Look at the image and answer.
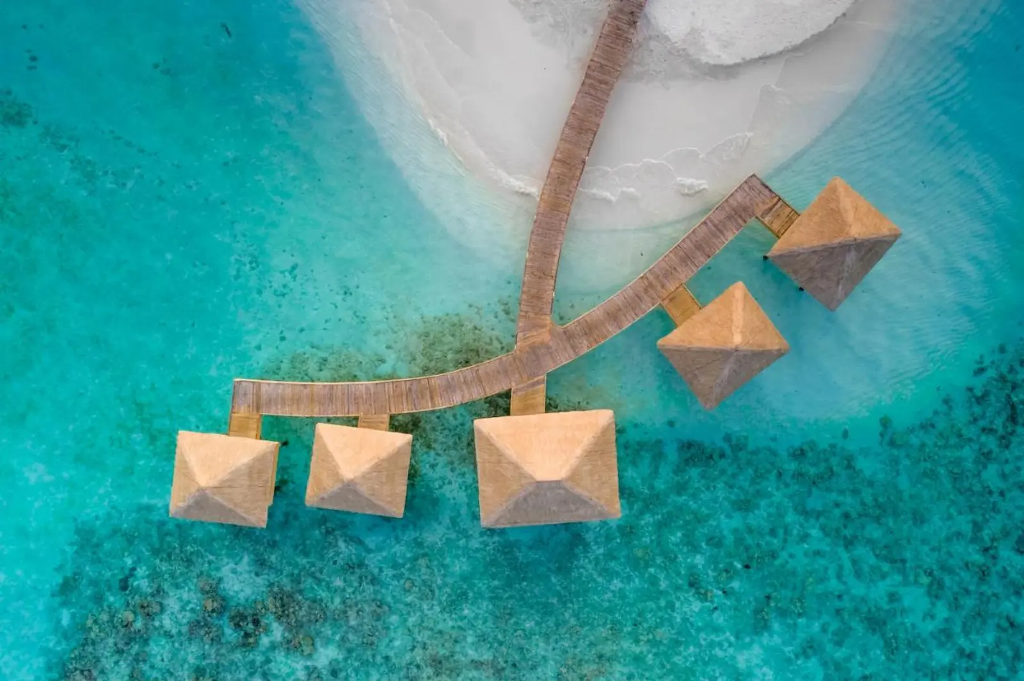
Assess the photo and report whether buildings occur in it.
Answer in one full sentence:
Yes, I can see a building in this picture.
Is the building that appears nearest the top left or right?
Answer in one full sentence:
The building that appears nearest the top is on the right side of the image.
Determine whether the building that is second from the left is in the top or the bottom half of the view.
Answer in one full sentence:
It is in the bottom half that the building that is second from the left appears.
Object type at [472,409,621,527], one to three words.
building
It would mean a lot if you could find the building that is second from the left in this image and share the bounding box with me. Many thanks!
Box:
[306,422,415,519]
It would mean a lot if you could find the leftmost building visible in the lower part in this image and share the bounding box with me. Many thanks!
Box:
[169,429,292,529]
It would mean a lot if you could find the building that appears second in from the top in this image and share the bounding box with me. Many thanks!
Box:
[656,282,791,410]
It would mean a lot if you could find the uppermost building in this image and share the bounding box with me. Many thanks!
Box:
[760,176,903,311]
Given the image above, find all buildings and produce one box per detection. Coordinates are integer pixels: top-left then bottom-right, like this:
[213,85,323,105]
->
[169,429,292,529]
[306,422,415,519]
[472,409,621,527]
[760,176,903,311]
[656,282,791,410]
